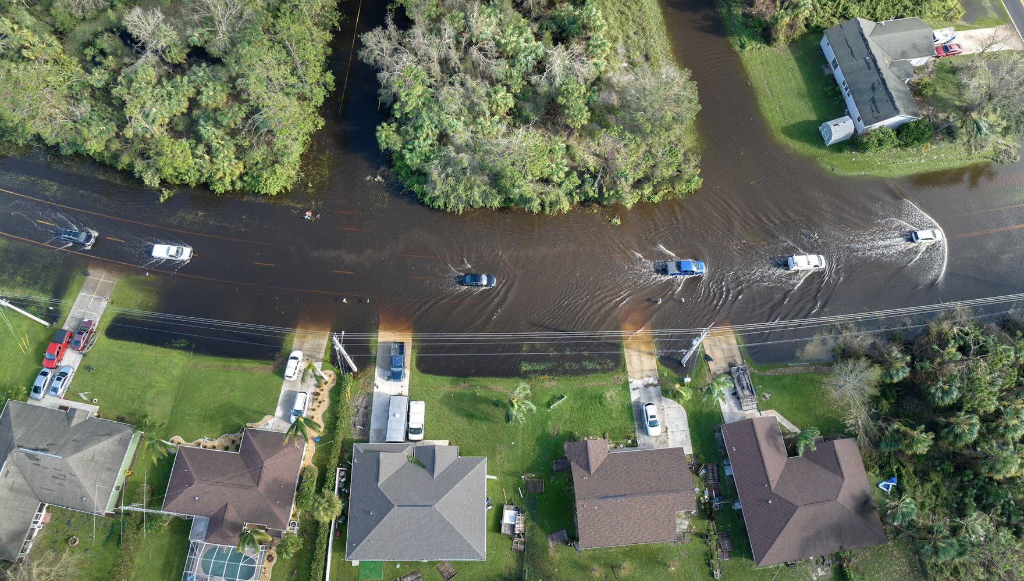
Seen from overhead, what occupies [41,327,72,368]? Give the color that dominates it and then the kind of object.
red truck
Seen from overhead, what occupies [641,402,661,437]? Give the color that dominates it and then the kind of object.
white car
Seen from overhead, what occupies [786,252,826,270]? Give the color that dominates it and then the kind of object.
white vehicle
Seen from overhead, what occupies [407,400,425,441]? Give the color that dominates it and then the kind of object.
white vehicle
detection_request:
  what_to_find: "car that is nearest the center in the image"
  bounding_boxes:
[463,272,496,288]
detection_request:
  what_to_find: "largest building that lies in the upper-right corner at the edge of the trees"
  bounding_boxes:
[821,17,935,135]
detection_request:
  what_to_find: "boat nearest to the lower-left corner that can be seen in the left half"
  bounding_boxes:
[78,328,100,357]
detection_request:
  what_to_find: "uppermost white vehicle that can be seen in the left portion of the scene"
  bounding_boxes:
[149,243,195,261]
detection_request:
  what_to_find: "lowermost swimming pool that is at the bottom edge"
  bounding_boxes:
[200,545,257,581]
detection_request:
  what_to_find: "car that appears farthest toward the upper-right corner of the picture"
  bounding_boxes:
[935,44,965,59]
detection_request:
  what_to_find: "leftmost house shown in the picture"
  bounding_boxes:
[0,400,138,563]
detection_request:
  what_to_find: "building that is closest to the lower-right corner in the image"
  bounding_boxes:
[720,416,888,567]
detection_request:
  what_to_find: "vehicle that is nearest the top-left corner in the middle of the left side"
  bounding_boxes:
[58,226,99,246]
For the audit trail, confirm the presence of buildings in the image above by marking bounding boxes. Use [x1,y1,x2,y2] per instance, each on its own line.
[821,17,935,135]
[567,440,697,550]
[720,416,888,567]
[0,400,138,563]
[162,428,307,546]
[346,444,497,560]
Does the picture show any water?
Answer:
Yes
